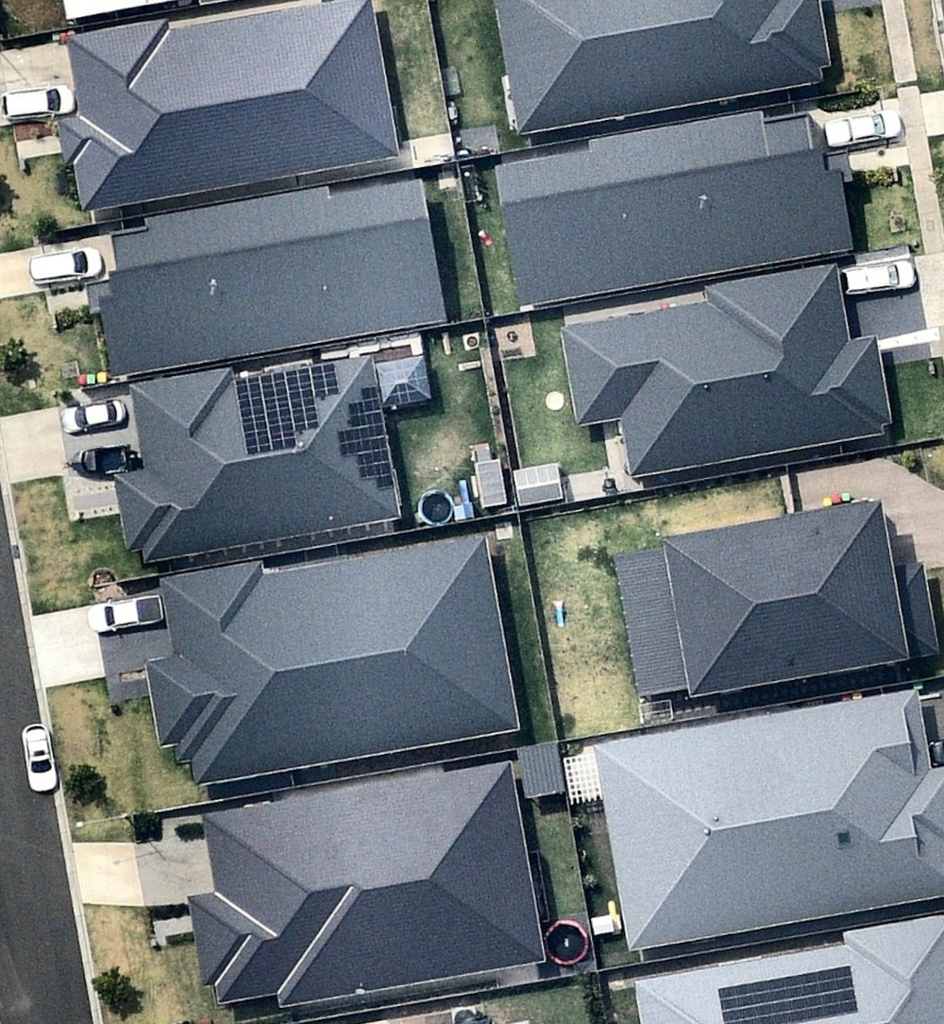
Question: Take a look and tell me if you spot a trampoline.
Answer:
Yes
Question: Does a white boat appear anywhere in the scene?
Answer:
No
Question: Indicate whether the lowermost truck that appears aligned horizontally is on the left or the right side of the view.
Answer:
left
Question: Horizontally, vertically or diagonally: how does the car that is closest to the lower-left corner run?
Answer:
vertically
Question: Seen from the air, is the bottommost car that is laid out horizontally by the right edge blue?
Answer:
No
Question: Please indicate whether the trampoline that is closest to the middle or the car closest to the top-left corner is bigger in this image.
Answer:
the car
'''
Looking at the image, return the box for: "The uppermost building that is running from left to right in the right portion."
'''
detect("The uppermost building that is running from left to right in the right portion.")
[496,0,832,135]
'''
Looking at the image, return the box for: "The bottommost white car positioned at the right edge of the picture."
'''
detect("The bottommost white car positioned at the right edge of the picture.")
[843,257,918,294]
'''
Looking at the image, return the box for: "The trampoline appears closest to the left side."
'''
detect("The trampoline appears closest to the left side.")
[418,489,453,526]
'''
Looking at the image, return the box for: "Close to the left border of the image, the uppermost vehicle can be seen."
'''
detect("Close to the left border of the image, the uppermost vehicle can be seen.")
[1,84,74,119]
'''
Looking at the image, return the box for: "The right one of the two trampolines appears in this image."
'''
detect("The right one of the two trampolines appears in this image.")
[546,920,590,966]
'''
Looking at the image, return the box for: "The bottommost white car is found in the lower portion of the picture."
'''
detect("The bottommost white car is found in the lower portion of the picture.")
[22,724,57,793]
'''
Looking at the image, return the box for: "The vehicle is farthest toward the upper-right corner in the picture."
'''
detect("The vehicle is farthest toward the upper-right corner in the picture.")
[825,108,903,147]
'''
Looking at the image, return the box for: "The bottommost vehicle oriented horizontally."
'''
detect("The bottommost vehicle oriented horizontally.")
[87,596,164,633]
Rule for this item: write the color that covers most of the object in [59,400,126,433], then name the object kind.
white car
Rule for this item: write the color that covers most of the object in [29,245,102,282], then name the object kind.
white car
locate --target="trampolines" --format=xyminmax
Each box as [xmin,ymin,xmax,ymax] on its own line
[546,920,590,966]
[418,489,453,526]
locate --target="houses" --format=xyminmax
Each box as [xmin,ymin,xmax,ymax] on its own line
[496,0,832,135]
[186,761,546,1010]
[562,262,894,478]
[113,355,401,561]
[635,915,944,1024]
[56,0,398,209]
[144,534,521,787]
[594,690,944,953]
[612,500,941,699]
[63,0,177,19]
[496,111,854,309]
[86,178,446,377]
